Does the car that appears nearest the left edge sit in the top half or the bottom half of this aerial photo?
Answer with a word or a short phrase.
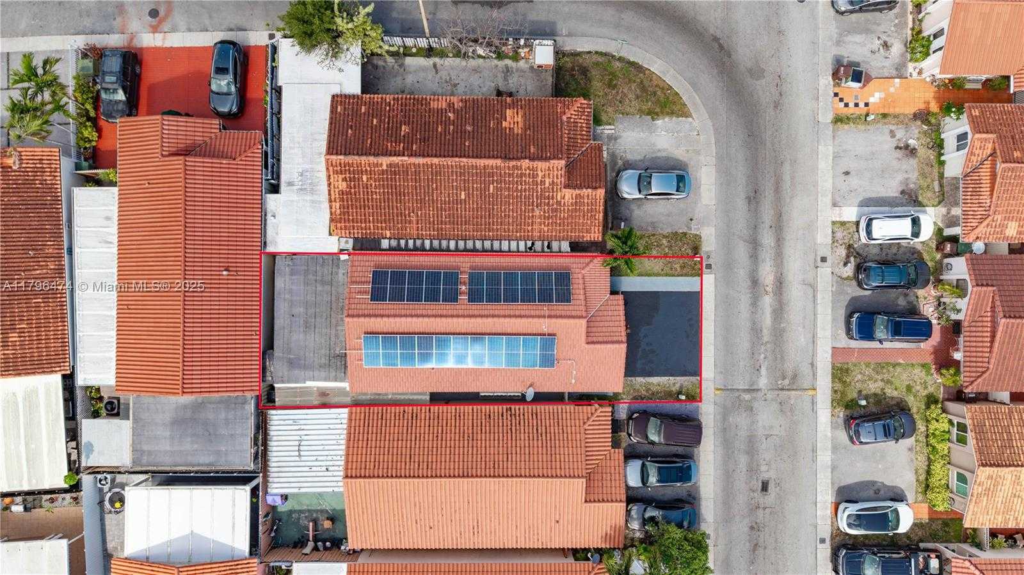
top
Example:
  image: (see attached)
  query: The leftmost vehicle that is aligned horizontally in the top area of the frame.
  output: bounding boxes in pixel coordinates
[614,165,690,202]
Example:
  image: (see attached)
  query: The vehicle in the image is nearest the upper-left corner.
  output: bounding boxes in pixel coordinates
[99,48,142,122]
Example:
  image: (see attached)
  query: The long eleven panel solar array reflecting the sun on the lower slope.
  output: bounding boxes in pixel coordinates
[349,335,557,368]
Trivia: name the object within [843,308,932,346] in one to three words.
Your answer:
car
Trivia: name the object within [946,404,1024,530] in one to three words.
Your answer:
house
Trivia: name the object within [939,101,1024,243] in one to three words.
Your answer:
house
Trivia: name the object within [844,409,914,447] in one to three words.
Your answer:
car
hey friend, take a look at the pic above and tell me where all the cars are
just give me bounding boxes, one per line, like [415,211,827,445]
[843,308,932,346]
[626,456,697,492]
[207,40,249,118]
[831,0,902,18]
[844,409,914,447]
[614,165,690,202]
[854,257,928,294]
[99,48,142,122]
[626,498,697,534]
[858,210,932,246]
[835,499,910,538]
[625,410,702,447]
